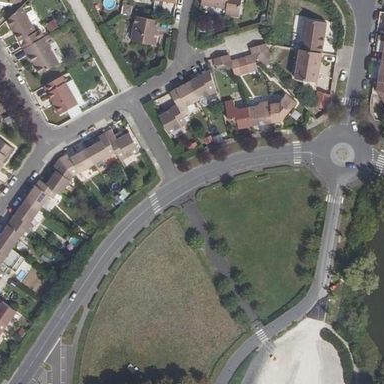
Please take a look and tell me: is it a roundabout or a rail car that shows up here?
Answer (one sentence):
The image shows a roundabout.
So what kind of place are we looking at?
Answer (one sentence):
This looks like a residential area.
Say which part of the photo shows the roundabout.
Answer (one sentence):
The roundabout sits in the right section of the image.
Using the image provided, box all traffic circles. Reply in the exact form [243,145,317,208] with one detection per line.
[316,127,370,181]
